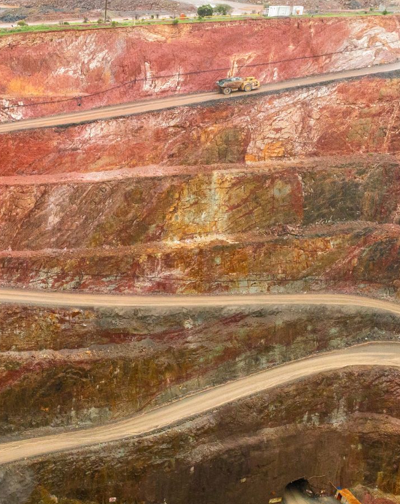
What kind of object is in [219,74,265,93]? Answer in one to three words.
vehicle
